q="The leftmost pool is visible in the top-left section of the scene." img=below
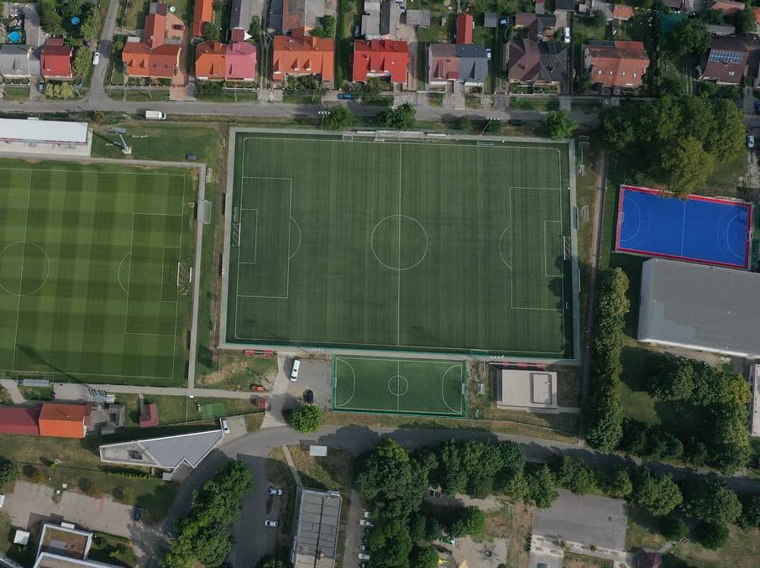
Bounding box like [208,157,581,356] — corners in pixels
[8,30,22,44]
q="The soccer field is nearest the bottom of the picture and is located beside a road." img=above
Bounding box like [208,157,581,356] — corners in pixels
[330,354,467,418]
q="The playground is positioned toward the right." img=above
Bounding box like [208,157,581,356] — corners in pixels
[443,536,511,568]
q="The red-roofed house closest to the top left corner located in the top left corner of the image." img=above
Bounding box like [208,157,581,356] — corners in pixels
[40,38,74,81]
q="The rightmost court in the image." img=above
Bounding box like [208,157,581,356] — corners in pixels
[616,184,754,269]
